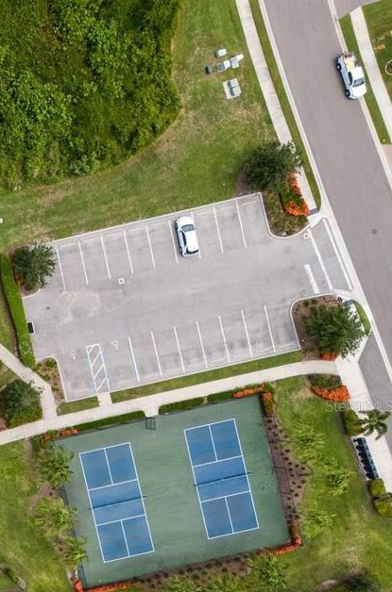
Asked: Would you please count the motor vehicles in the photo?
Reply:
2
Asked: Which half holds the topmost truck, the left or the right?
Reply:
right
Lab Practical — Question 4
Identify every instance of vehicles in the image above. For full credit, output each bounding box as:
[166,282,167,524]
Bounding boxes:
[339,47,371,98]
[174,215,202,257]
